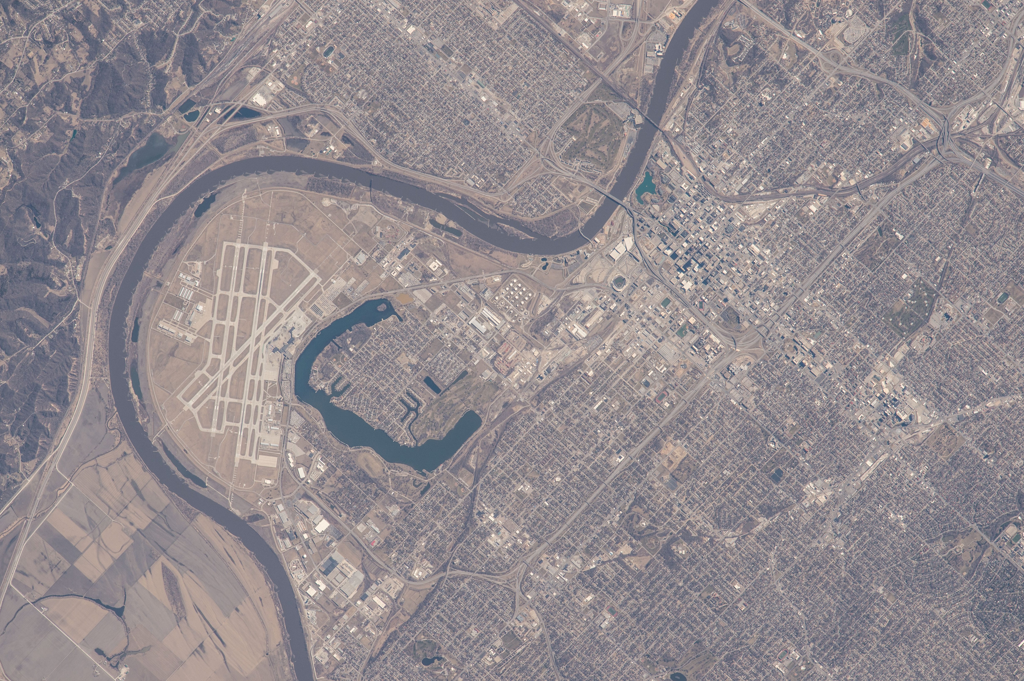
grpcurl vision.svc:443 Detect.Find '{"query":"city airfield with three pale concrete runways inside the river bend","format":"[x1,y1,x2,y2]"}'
[152,189,330,508]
